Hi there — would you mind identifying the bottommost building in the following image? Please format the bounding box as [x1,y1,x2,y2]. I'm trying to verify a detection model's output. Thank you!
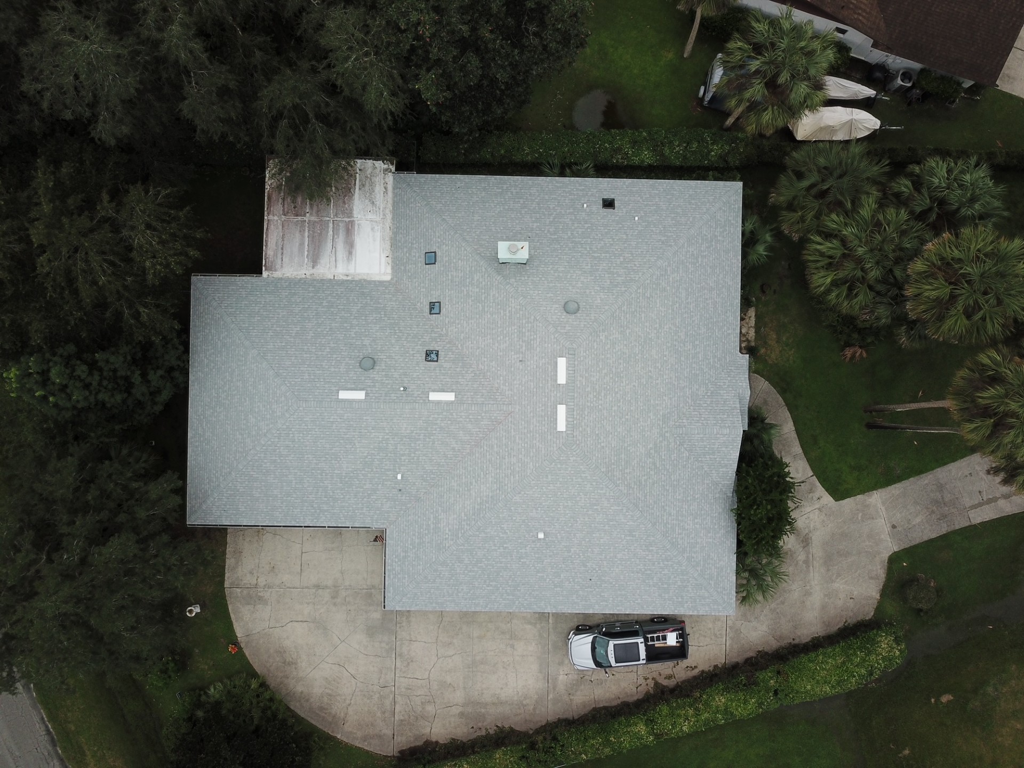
[185,168,754,617]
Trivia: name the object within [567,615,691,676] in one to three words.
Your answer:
truck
